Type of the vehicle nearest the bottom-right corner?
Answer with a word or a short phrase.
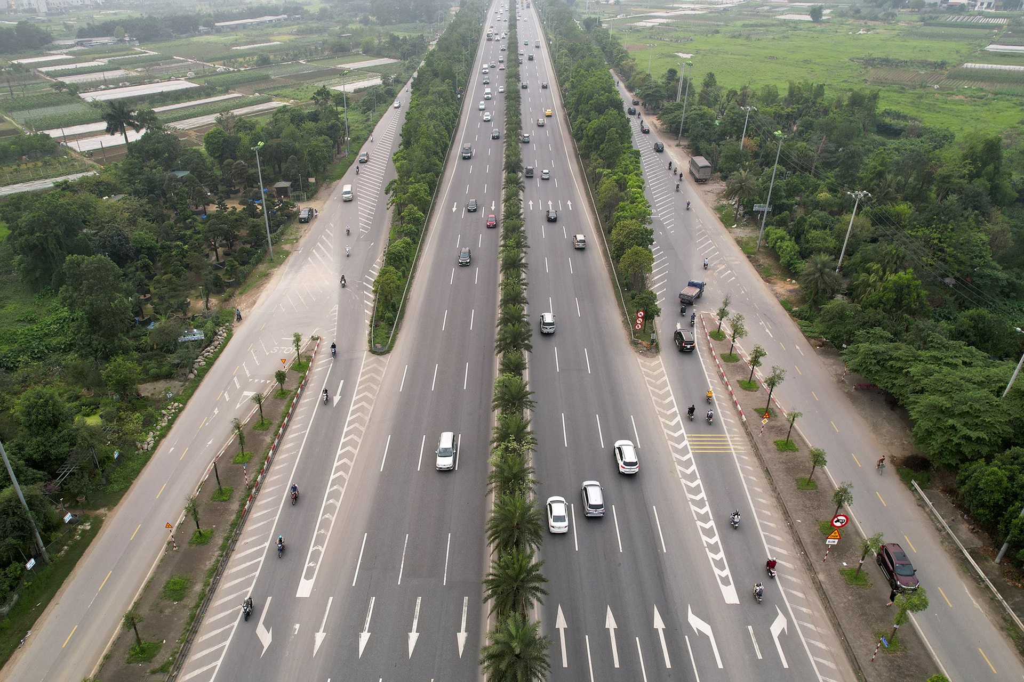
automobile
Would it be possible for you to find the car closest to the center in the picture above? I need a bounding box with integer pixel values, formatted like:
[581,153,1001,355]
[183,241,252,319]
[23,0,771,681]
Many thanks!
[538,314,556,334]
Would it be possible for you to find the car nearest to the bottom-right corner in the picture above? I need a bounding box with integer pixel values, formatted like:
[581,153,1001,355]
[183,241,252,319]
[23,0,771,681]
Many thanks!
[873,542,924,593]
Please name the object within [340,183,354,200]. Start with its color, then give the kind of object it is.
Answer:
white vehicle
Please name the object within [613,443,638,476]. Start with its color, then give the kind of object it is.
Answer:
white car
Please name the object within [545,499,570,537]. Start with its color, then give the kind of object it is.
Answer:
white car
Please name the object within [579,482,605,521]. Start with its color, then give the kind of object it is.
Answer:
gray car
